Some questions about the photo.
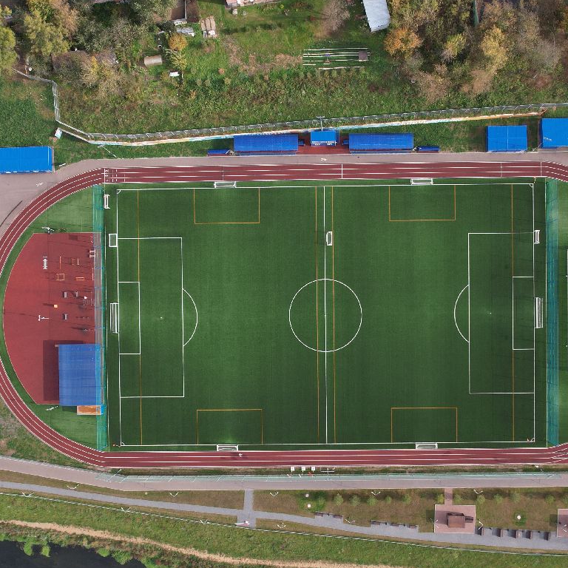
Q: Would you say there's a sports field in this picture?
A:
Yes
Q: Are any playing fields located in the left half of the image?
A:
Yes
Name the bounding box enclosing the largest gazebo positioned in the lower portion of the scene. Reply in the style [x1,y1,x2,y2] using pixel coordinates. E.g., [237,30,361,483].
[445,513,465,528]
